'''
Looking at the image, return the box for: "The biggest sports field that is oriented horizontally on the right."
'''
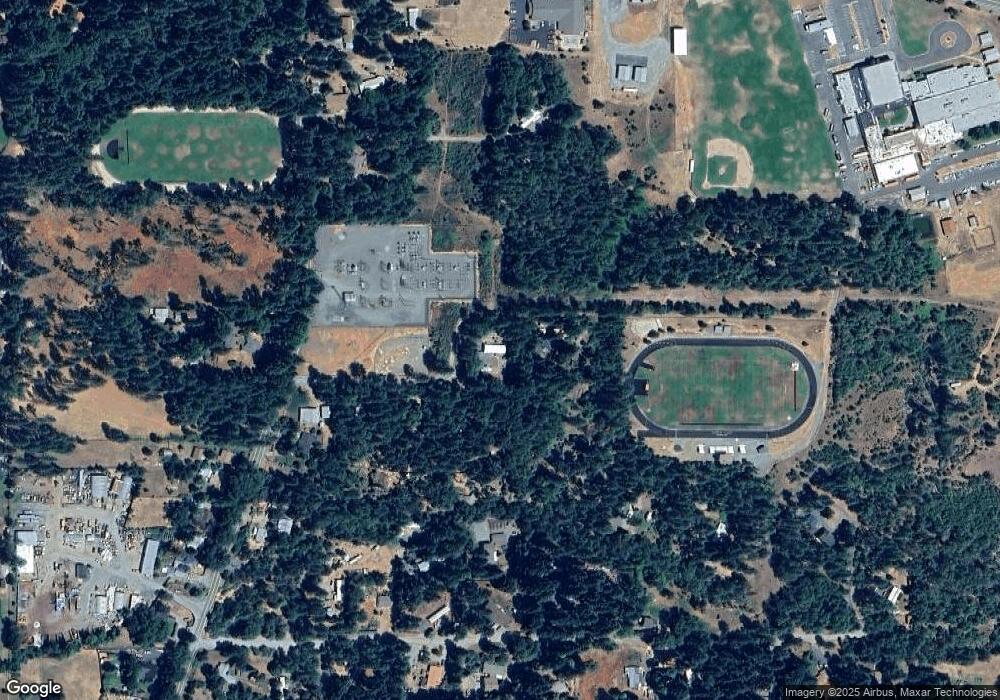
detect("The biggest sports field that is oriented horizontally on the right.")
[634,348,808,428]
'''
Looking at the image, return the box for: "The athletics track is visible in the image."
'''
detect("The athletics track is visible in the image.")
[631,336,818,439]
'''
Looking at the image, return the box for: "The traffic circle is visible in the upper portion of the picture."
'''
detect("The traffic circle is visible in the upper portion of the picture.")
[893,21,972,71]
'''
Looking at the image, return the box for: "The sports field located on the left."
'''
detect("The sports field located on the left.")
[95,107,284,187]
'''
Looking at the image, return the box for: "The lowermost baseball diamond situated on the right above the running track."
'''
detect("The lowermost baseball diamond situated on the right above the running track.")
[692,134,758,194]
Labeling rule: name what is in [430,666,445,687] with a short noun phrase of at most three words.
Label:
house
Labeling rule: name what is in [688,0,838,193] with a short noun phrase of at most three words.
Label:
sports field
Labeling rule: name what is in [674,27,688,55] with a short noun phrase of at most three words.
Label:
building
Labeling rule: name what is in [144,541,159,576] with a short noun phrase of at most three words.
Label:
building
